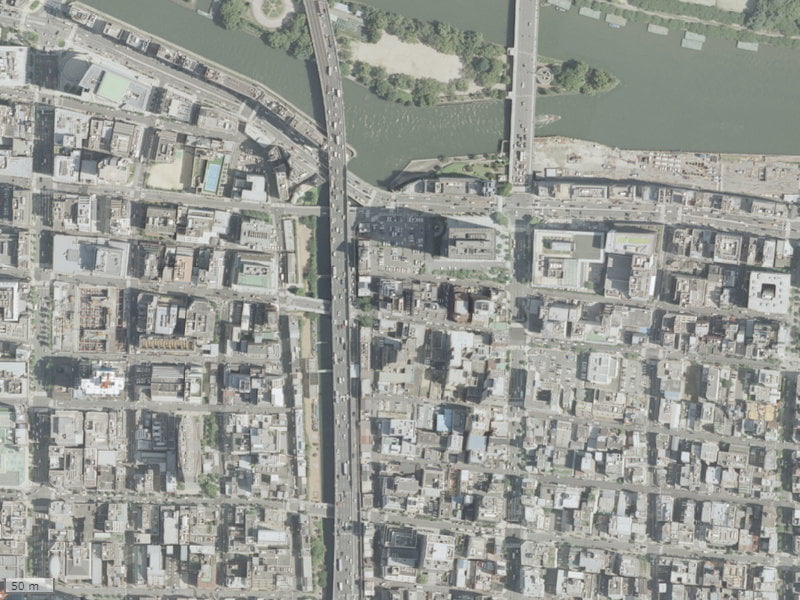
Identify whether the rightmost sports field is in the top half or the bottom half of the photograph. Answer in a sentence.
You can find the rightmost sports field in the top half.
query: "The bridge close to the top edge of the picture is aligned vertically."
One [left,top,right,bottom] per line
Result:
[506,0,539,187]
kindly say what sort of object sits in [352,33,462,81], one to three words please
sports field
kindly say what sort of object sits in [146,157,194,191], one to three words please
sports field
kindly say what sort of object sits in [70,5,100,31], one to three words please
building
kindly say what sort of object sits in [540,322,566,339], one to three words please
building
